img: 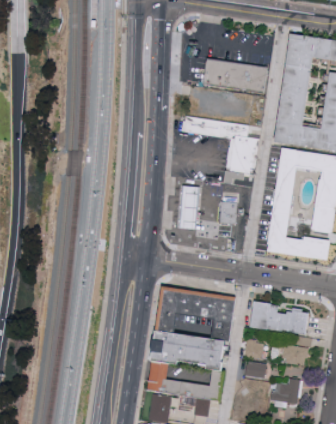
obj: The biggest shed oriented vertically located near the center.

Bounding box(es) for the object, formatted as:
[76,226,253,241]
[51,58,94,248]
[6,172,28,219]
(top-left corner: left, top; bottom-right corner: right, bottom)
[178,186,200,230]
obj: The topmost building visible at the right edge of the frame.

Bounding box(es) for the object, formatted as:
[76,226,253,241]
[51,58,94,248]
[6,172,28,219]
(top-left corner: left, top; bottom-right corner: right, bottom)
[274,34,336,153]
